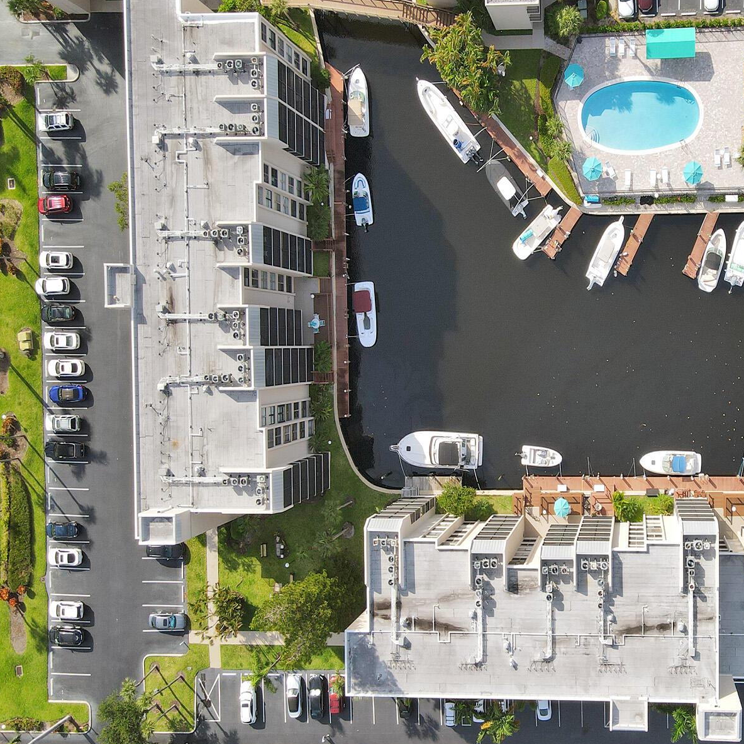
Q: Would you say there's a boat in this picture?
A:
Yes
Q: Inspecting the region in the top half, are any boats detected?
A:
Yes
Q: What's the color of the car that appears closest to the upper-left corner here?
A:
white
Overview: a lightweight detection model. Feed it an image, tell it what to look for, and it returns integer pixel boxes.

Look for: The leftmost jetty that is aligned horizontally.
[406,476,462,492]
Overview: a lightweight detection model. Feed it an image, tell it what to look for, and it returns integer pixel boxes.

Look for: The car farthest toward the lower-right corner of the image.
[538,699,553,723]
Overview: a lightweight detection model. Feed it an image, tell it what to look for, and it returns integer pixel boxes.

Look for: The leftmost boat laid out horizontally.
[388,433,485,469]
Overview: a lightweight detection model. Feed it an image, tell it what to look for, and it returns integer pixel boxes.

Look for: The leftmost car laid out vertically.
[239,680,258,724]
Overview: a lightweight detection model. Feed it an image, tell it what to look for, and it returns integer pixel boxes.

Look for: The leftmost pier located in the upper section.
[324,62,350,417]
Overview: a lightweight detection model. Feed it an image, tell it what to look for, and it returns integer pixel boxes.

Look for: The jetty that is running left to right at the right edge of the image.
[524,476,744,492]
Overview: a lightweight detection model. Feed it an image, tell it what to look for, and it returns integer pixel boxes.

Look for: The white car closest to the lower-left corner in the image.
[50,600,87,621]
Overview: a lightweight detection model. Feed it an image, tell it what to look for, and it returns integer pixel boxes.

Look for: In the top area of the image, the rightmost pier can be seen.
[683,212,719,278]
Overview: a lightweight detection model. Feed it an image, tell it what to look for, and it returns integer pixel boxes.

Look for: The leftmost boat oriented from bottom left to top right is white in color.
[516,197,568,258]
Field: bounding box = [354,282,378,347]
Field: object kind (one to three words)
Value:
boat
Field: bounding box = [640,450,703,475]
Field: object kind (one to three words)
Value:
boat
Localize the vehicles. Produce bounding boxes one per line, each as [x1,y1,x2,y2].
[45,170,83,191]
[48,548,85,568]
[538,699,553,723]
[703,0,719,9]
[50,600,87,621]
[328,670,347,720]
[146,542,185,562]
[38,195,75,215]
[46,414,84,434]
[45,441,88,462]
[52,384,86,404]
[46,521,83,541]
[308,676,327,719]
[42,304,77,323]
[442,698,459,730]
[39,112,77,133]
[45,331,83,351]
[397,697,414,722]
[50,358,87,378]
[50,626,87,647]
[239,680,258,724]
[35,276,73,296]
[149,612,187,632]
[638,0,653,8]
[41,250,74,269]
[285,674,304,718]
[618,0,633,13]
[498,699,513,715]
